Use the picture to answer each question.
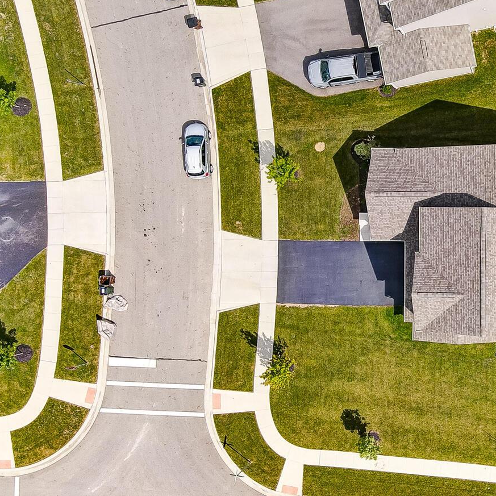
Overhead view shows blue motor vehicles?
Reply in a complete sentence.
No, I find no blue motor vehicle anywhere in the image.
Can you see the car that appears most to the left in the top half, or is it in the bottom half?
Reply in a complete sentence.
The top half of the photo is where the car that appears most to the left is.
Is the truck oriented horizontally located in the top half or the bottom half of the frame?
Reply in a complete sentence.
The top half of the photo is where the truck oriented horizontally is.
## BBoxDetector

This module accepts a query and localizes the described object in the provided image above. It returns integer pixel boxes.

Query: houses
[358,0,496,89]
[365,144,496,344]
